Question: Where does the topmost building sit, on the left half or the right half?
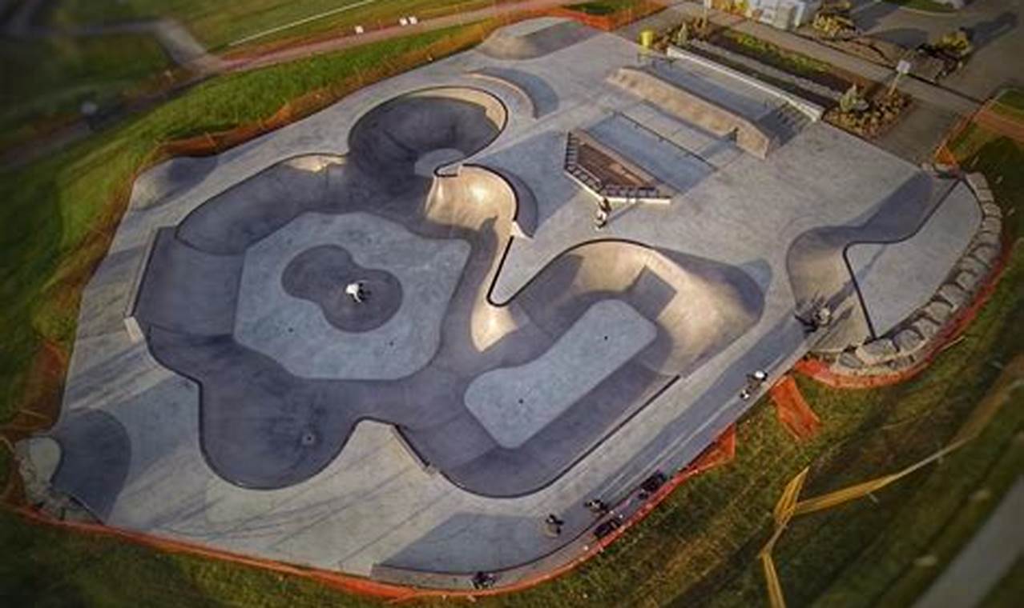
right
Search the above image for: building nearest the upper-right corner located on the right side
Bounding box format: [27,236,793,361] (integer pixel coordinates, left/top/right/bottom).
[753,0,814,29]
